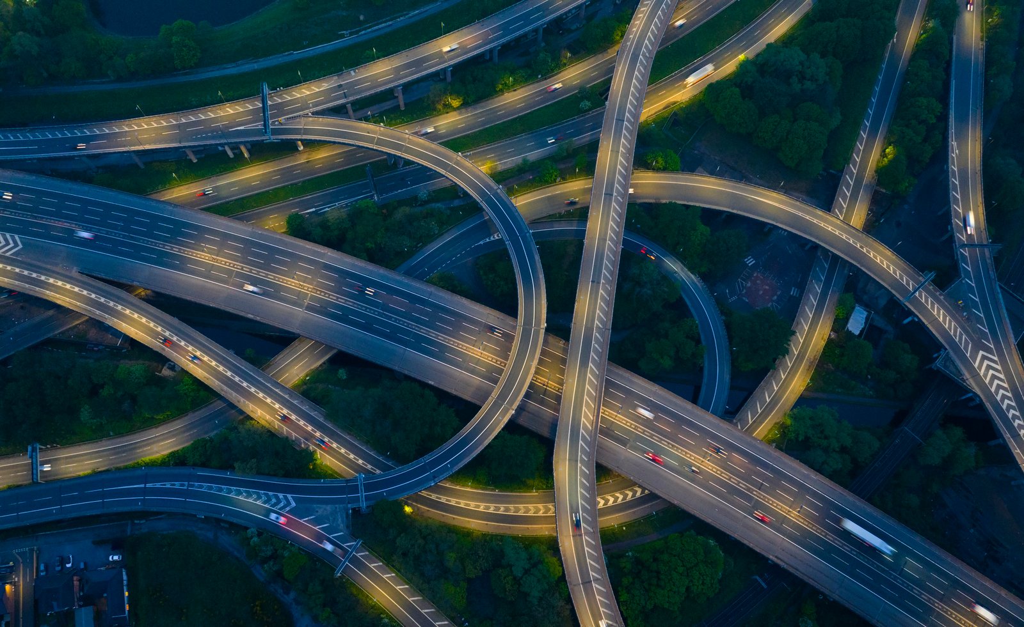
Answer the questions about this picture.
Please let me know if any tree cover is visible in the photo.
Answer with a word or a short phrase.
Yes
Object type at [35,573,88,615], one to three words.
building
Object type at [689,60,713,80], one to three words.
vehicle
